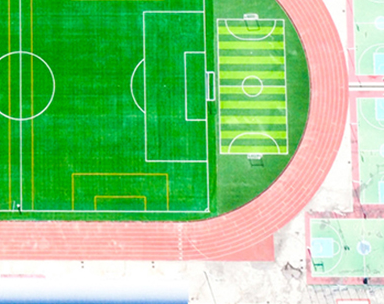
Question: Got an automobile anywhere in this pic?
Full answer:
No, the photo shows no automobile.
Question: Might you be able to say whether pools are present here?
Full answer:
No, the frame has no pool in it.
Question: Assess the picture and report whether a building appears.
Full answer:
No, there is no building in the image.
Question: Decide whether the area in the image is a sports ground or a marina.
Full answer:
This looks like a sports ground.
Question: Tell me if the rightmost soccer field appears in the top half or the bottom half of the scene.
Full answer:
Seen from above, the rightmost soccer field lies in the top half of the view.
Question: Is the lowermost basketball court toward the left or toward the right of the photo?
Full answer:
The lowermost basketball court appears in the right half of the scene.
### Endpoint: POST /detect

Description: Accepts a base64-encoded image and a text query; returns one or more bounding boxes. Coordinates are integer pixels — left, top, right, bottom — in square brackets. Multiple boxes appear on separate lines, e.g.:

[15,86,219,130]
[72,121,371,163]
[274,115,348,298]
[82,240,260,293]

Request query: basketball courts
[305,210,384,284]
[346,0,384,83]
[350,90,384,210]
